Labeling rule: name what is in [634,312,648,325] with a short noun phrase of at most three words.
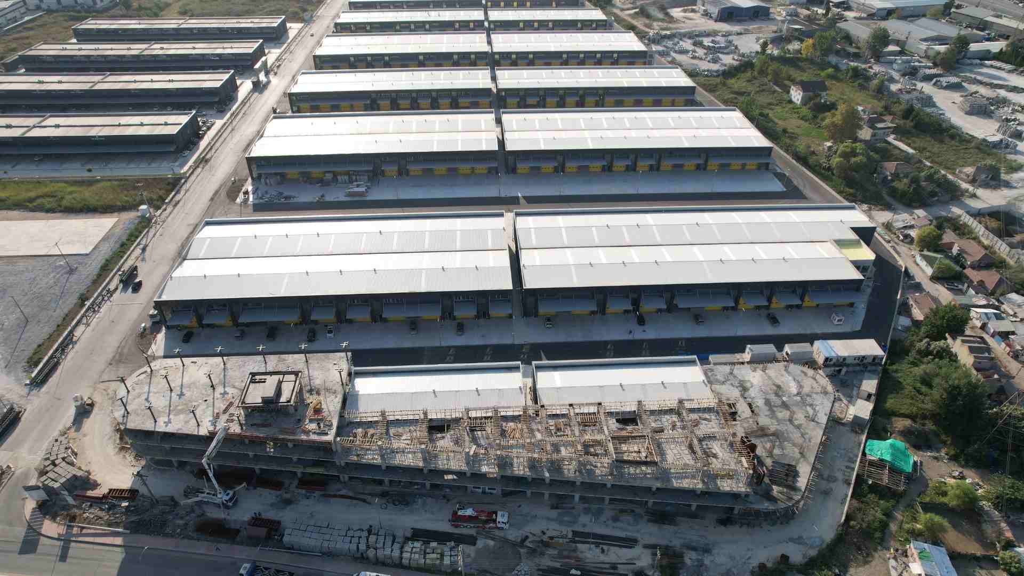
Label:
vehicle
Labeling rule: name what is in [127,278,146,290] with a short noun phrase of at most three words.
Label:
vehicle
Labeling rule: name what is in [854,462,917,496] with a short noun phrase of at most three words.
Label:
building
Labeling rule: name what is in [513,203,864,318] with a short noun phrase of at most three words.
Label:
warehouse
